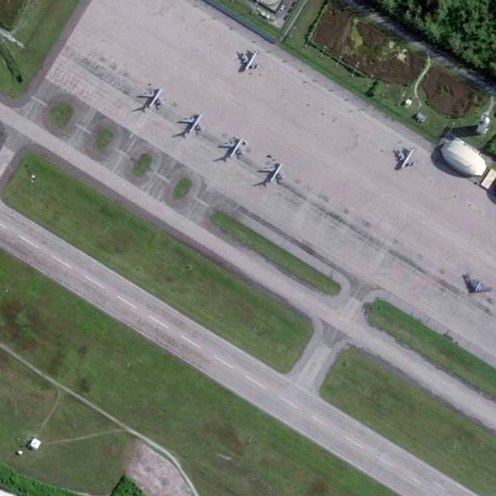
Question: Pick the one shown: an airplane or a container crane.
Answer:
airplane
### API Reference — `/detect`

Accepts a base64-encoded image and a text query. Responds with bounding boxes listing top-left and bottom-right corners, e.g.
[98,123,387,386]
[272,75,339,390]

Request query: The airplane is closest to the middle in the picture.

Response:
[263,162,283,185]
